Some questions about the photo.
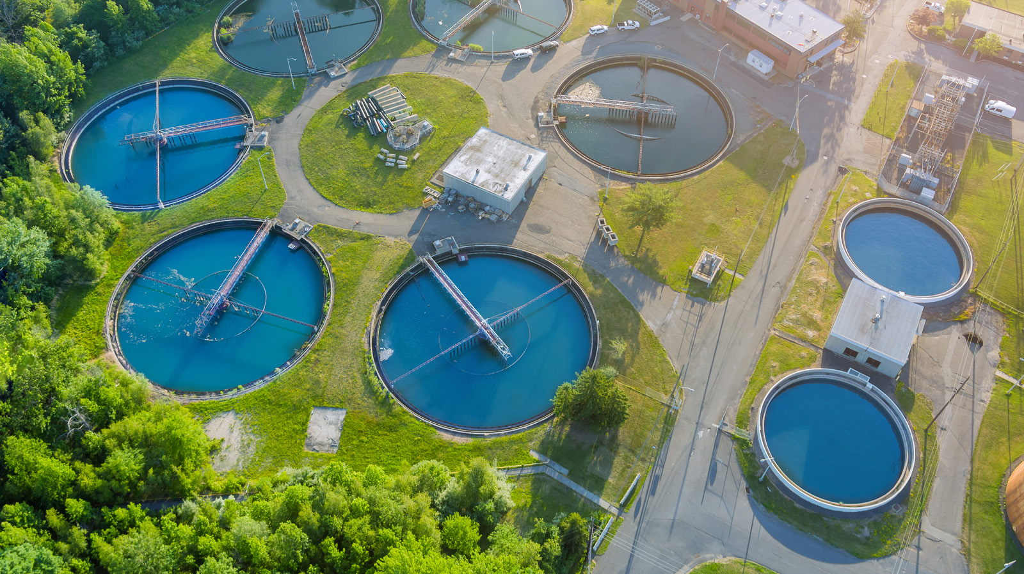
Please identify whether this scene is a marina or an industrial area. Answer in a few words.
industrial area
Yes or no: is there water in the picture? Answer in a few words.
Yes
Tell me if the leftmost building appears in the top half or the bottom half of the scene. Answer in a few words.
top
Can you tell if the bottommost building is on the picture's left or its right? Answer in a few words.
right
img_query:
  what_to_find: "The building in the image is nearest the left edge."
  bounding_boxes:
[442,127,548,215]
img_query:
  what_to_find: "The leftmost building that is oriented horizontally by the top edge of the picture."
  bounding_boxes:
[661,0,845,78]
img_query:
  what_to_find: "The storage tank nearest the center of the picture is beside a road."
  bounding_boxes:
[370,243,600,435]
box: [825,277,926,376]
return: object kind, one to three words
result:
building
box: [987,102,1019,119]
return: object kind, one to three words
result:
vehicle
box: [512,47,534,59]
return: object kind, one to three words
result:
vehicle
